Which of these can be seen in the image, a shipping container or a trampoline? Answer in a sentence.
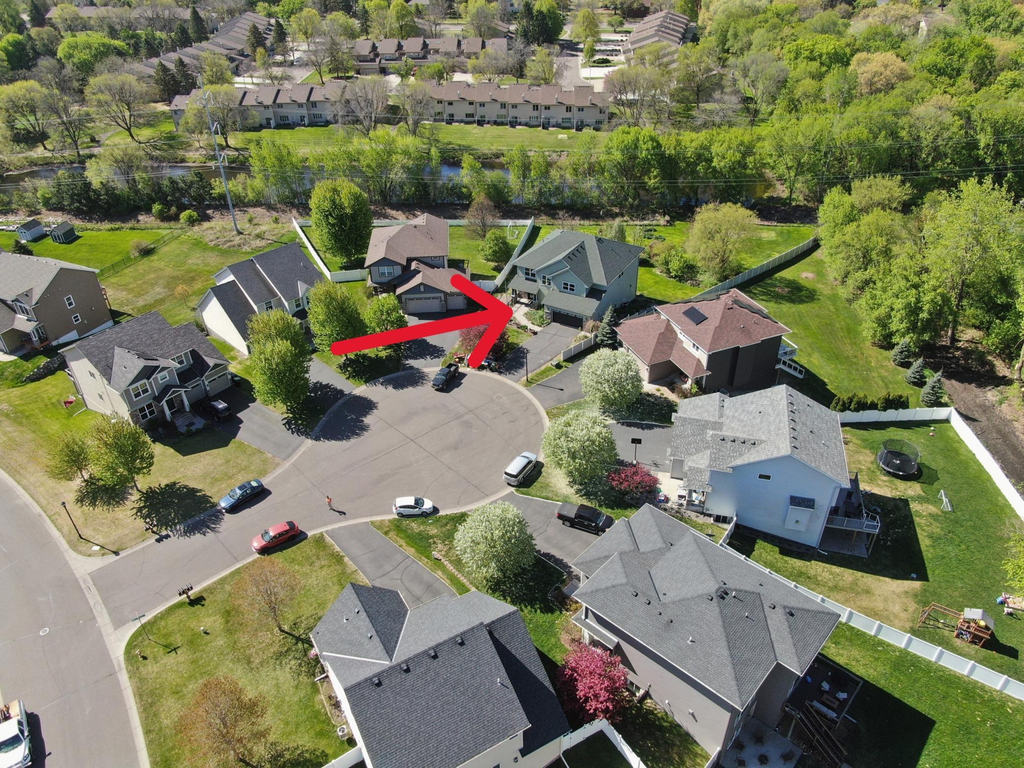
This aerial view contains a trampoline.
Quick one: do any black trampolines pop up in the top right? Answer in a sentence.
No, I can find no black trampoline in the top right.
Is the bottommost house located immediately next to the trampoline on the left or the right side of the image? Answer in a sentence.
You can find the bottommost house located immediately next to the trampoline on the right side of the picture.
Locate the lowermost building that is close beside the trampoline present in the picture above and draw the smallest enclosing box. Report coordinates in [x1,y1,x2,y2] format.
[668,378,883,553]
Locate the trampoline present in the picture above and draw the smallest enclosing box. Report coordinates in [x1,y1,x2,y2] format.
[882,441,928,484]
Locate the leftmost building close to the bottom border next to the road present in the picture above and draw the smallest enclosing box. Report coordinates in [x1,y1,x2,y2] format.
[305,570,576,768]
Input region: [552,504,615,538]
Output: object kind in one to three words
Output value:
vehicle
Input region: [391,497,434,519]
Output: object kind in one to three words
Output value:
car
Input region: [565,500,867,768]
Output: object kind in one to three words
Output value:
house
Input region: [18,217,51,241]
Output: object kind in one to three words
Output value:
shed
